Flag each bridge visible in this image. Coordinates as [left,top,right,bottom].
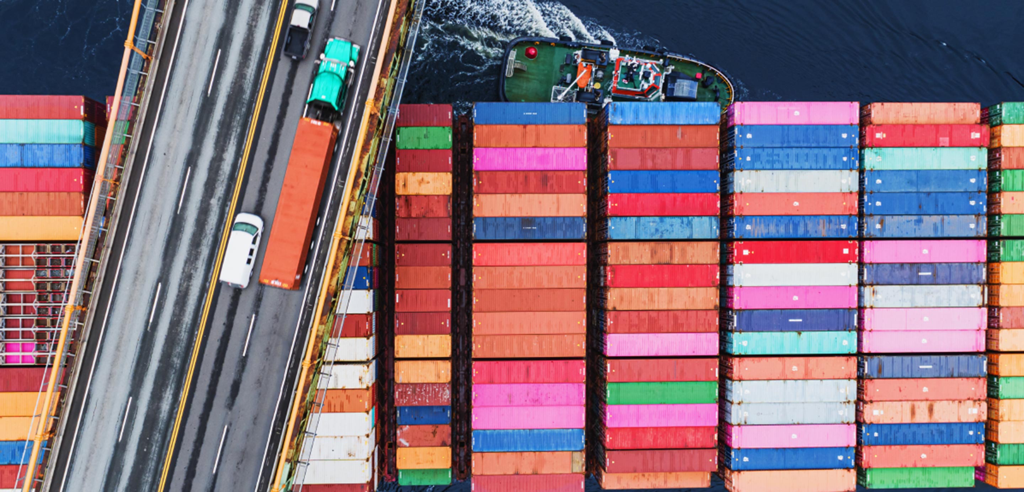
[8,0,424,492]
